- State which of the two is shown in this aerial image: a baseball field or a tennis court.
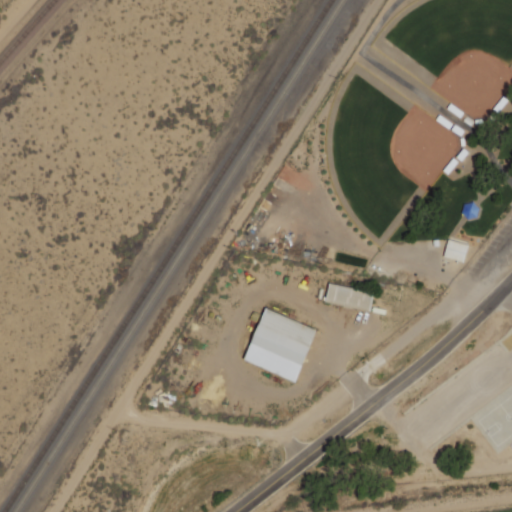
baseball field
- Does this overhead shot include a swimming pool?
No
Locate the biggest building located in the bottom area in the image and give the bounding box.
[244,308,317,380]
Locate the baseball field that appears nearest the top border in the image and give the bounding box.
[371,0,512,119]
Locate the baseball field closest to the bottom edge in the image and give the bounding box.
[328,63,462,244]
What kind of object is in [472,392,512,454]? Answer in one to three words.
basketball court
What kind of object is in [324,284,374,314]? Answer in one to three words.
shed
